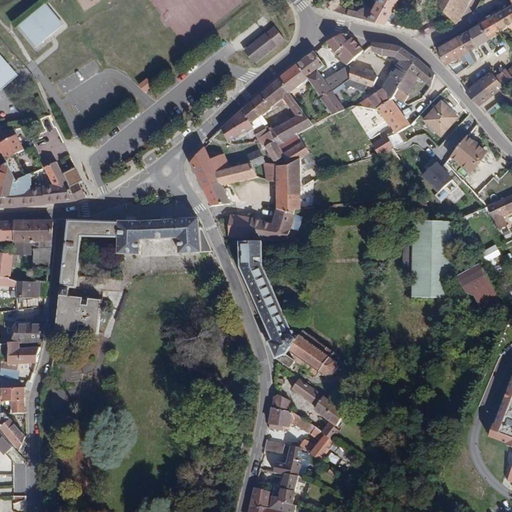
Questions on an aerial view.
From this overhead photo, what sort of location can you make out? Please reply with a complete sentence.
This looks like a residential area.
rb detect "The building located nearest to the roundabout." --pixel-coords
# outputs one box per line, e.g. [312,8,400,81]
[188,146,232,205]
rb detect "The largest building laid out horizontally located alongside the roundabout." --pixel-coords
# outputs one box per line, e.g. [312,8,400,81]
[116,216,200,254]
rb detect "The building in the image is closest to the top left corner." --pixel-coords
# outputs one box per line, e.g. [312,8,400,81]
[12,0,63,47]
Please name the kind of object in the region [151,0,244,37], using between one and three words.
sports court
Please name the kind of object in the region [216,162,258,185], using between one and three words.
barn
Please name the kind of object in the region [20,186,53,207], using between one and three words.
house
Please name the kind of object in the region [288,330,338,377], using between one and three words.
building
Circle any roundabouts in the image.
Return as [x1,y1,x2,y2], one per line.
[142,150,186,194]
